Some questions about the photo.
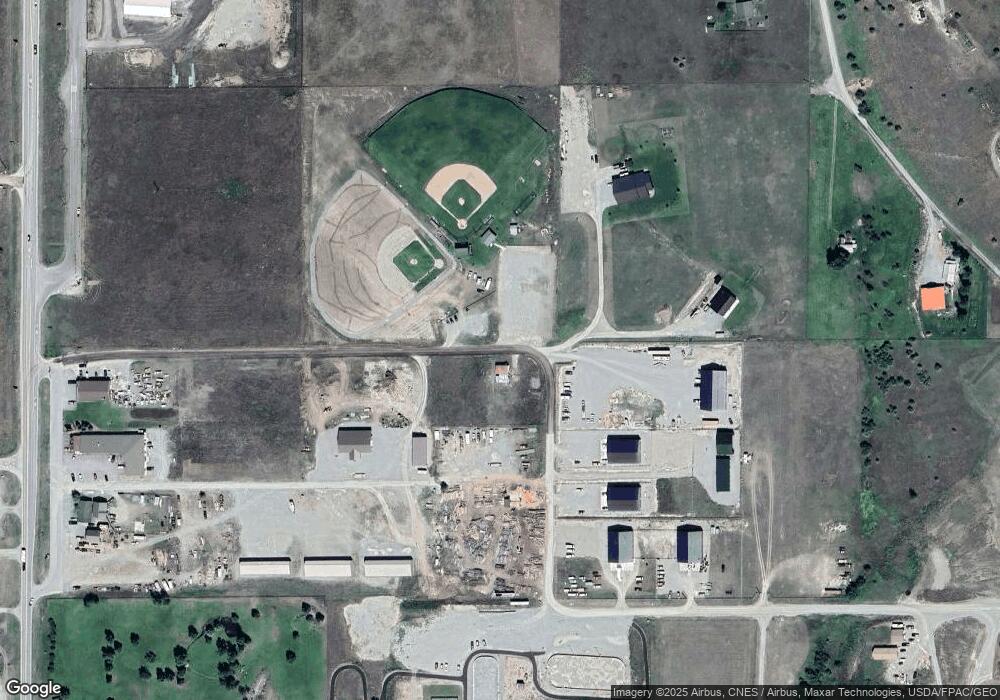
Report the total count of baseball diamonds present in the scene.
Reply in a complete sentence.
In total, 2 baseball diamonds can be seen.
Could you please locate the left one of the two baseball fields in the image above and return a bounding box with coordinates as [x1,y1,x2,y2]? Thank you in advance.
[310,171,457,335]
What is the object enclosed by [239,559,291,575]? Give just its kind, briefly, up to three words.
shed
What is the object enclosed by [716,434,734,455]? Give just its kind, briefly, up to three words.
barn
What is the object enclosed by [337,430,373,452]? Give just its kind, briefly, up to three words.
building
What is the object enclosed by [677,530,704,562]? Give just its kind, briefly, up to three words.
building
